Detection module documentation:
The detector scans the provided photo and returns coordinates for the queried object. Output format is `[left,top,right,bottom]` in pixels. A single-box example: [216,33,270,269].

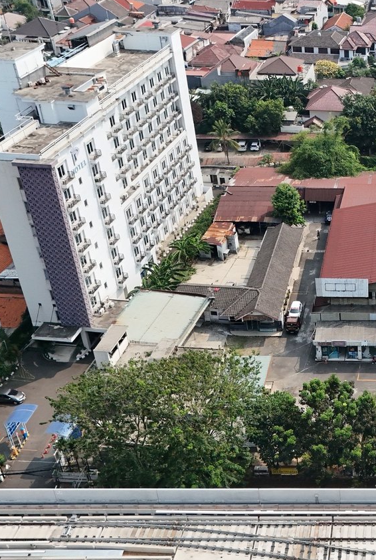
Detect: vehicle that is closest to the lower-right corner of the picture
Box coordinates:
[287,313,302,333]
